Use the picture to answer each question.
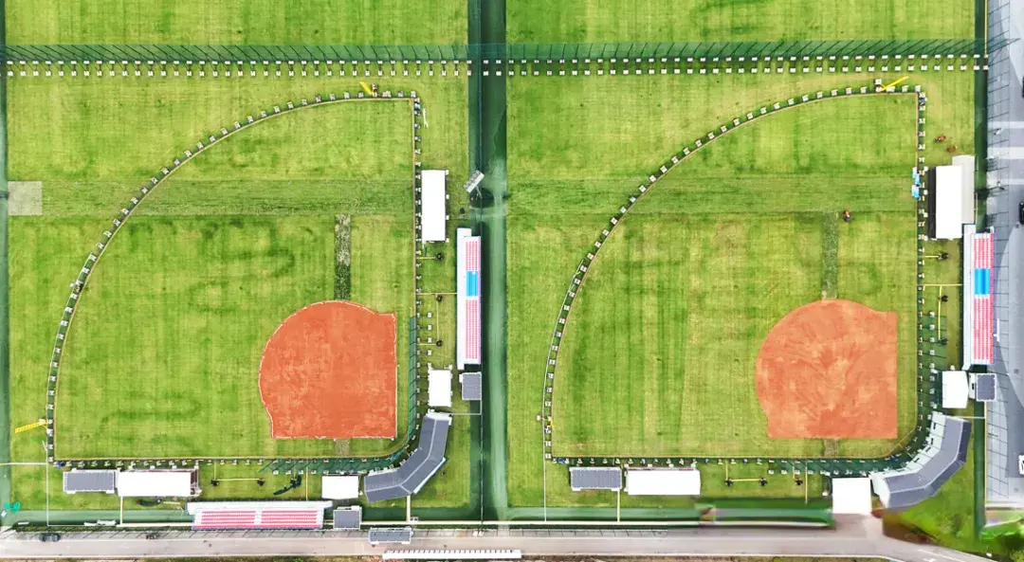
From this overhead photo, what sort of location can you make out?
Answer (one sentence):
The picture captures a sports ground.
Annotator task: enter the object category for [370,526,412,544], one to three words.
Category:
building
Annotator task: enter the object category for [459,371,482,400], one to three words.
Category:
building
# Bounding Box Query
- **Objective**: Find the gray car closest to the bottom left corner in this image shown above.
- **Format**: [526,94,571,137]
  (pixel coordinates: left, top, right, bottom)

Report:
[36,533,59,545]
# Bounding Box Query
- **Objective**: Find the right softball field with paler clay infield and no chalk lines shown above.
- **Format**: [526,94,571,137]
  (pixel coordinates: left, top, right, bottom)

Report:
[552,93,917,457]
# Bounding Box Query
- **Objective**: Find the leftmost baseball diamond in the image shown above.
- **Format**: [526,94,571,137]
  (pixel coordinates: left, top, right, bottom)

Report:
[55,98,414,458]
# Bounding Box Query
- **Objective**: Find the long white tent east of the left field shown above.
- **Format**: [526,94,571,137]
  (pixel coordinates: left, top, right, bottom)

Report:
[422,170,447,243]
